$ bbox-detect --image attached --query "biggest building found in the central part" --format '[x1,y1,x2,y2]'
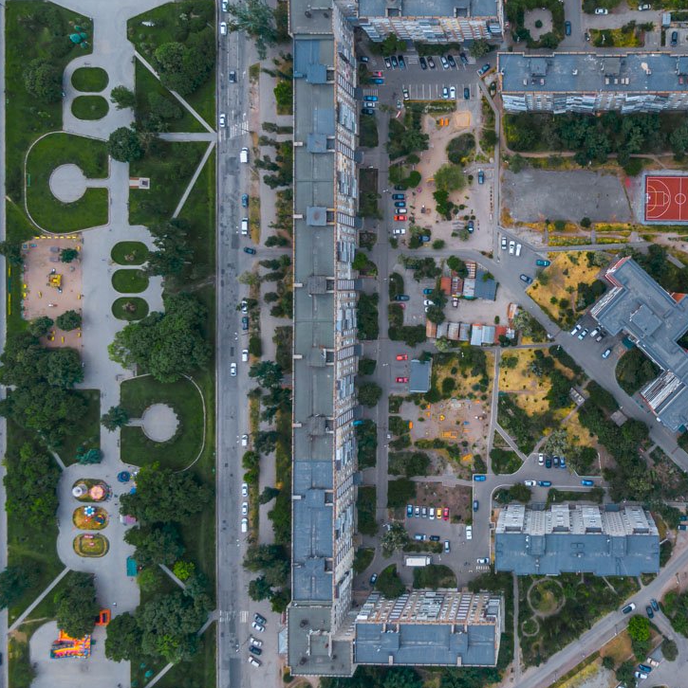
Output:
[292,37,365,604]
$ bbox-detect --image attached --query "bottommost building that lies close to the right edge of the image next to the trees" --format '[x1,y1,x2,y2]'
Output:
[495,501,659,577]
